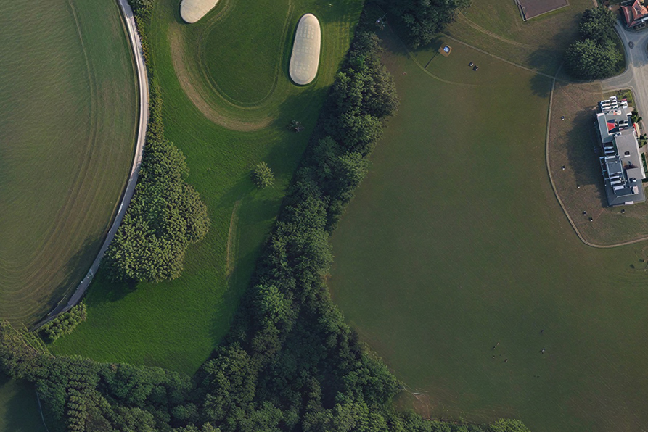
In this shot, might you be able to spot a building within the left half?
No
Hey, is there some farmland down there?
Yes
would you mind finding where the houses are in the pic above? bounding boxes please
[620,0,648,29]
[594,107,647,206]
